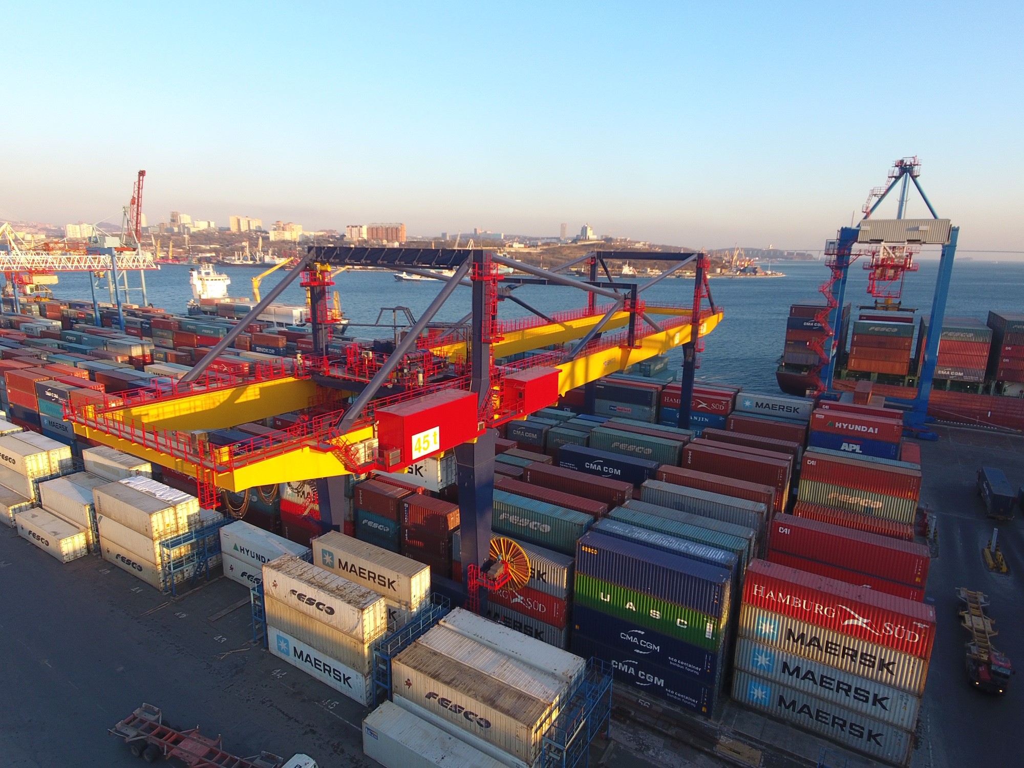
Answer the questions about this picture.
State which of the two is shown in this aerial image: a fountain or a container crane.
container crane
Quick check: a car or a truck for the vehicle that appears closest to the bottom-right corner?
truck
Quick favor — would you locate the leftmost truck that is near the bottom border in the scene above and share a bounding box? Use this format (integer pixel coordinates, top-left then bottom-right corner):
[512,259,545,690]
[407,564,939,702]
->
[101,700,323,768]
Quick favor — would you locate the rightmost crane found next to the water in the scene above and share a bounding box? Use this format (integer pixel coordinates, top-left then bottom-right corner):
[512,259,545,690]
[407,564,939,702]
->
[805,152,957,440]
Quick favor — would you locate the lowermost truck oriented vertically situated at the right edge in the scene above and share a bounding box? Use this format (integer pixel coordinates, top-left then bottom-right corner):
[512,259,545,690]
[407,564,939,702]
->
[959,578,1009,688]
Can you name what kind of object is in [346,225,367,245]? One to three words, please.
building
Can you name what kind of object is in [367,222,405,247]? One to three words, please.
building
